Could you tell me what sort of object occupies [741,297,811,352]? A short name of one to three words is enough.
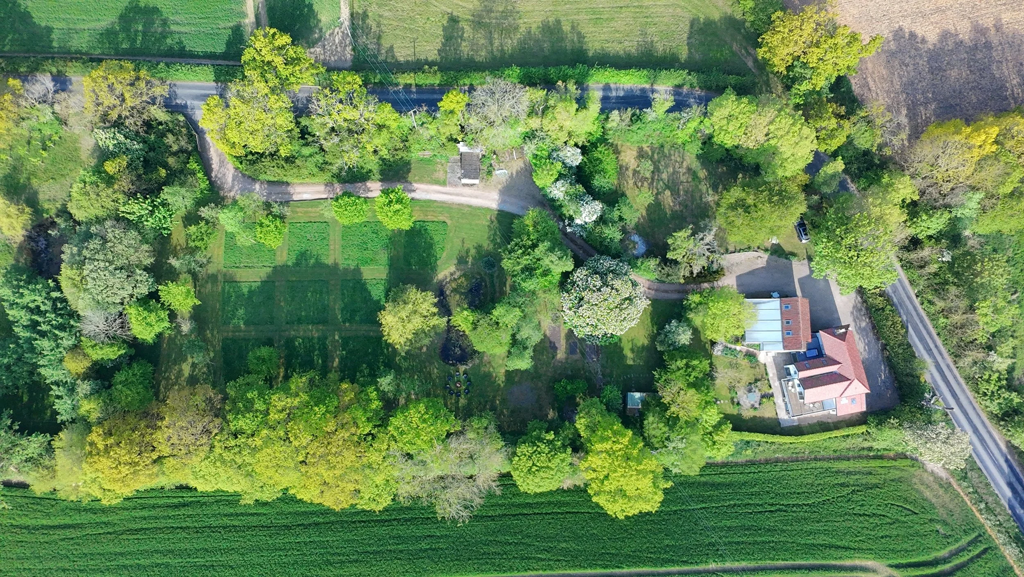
building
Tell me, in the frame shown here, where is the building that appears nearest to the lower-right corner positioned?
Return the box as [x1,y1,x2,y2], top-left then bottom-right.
[776,323,870,418]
